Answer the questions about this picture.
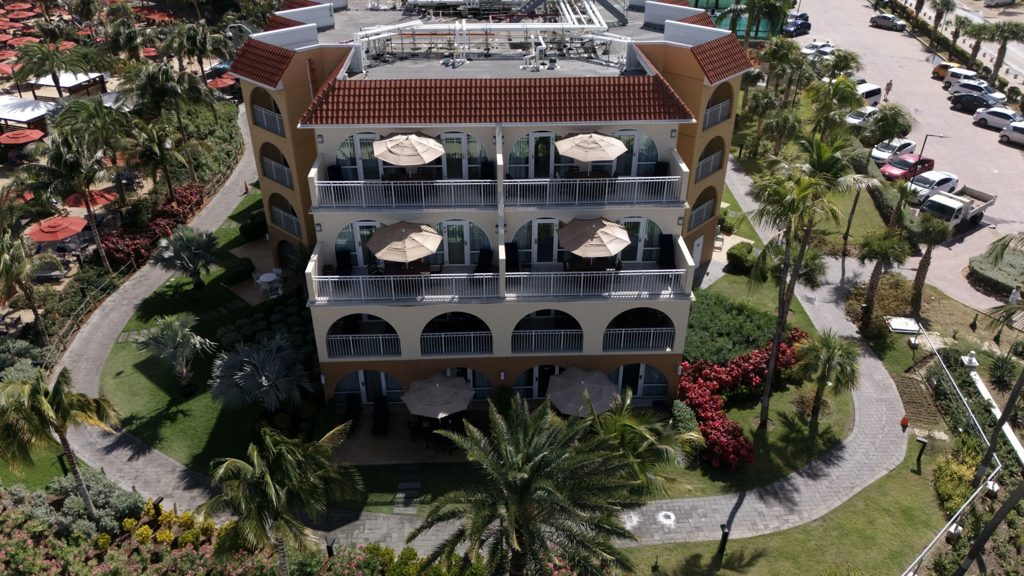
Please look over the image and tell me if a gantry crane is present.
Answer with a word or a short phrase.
No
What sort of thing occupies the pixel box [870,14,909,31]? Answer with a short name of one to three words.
car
